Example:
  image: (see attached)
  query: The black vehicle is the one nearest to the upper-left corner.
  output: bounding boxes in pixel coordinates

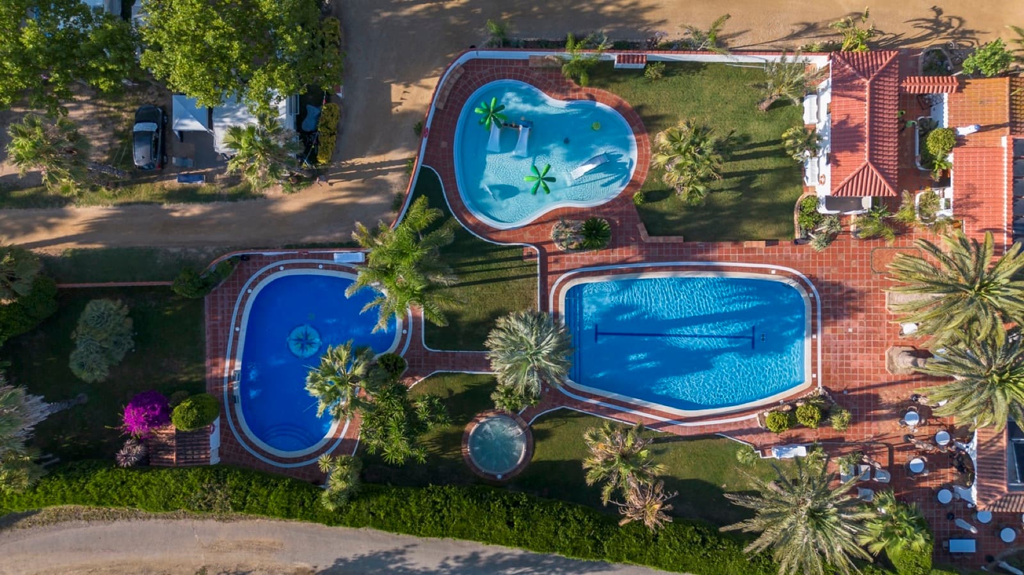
[130,107,168,171]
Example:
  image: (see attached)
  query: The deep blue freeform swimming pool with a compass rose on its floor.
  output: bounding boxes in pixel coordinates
[224,259,412,466]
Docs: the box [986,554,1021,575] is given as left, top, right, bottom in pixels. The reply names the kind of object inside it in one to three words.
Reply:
umbrella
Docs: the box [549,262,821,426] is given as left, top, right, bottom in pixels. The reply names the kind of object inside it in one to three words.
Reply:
swimming pool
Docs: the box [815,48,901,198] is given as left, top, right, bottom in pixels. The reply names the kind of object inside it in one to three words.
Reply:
building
